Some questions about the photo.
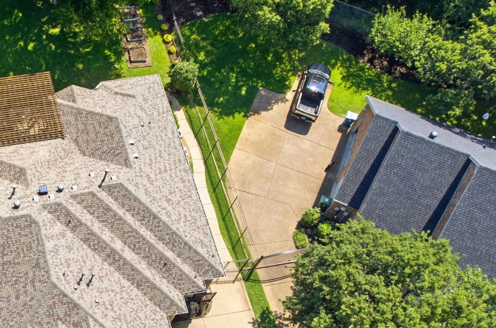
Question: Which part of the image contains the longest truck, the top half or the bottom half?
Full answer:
The top half of the photo is where the longest truck is.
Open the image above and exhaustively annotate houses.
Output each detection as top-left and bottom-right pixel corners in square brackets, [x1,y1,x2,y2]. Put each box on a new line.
[323,95,496,322]
[0,72,225,328]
